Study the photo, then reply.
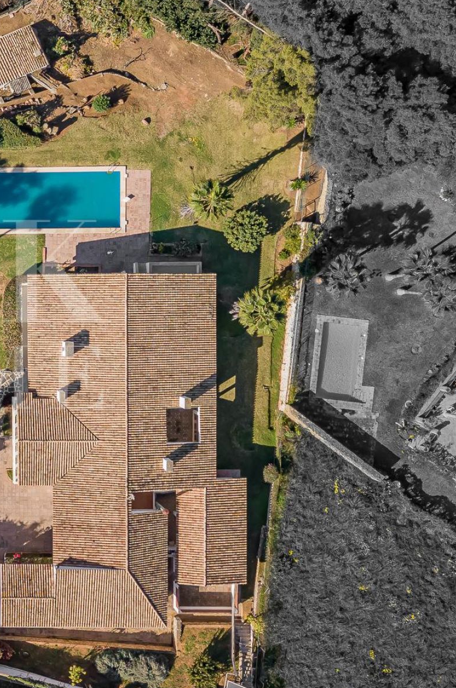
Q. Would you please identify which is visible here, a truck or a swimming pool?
swimming pool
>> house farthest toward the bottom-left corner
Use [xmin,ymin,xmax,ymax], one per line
[0,261,247,650]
